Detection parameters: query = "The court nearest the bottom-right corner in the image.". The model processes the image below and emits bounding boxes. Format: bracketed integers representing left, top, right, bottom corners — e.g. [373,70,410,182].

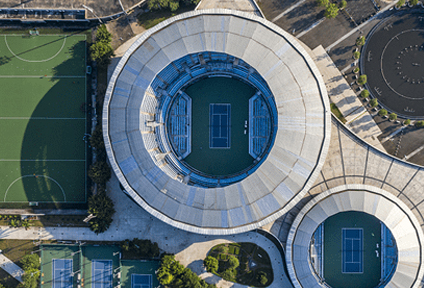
[340,228,365,273]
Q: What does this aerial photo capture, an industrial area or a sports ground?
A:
sports ground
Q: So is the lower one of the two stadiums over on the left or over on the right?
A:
right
